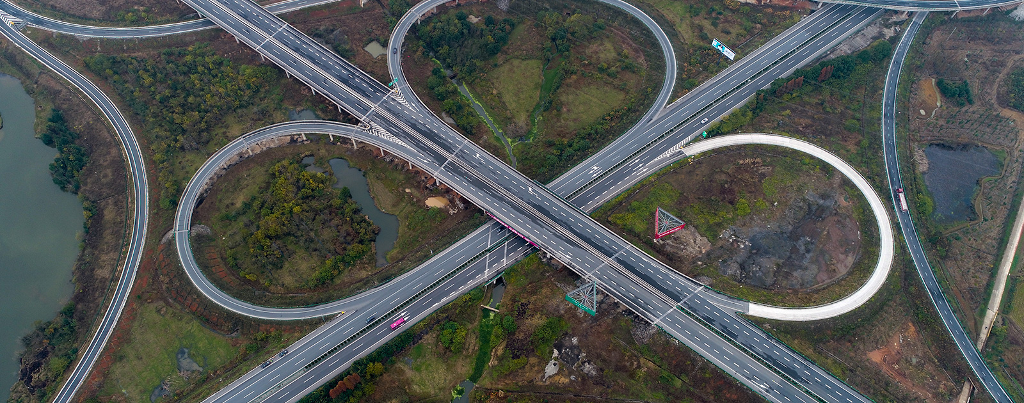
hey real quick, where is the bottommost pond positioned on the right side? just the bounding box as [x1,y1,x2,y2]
[924,143,999,222]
